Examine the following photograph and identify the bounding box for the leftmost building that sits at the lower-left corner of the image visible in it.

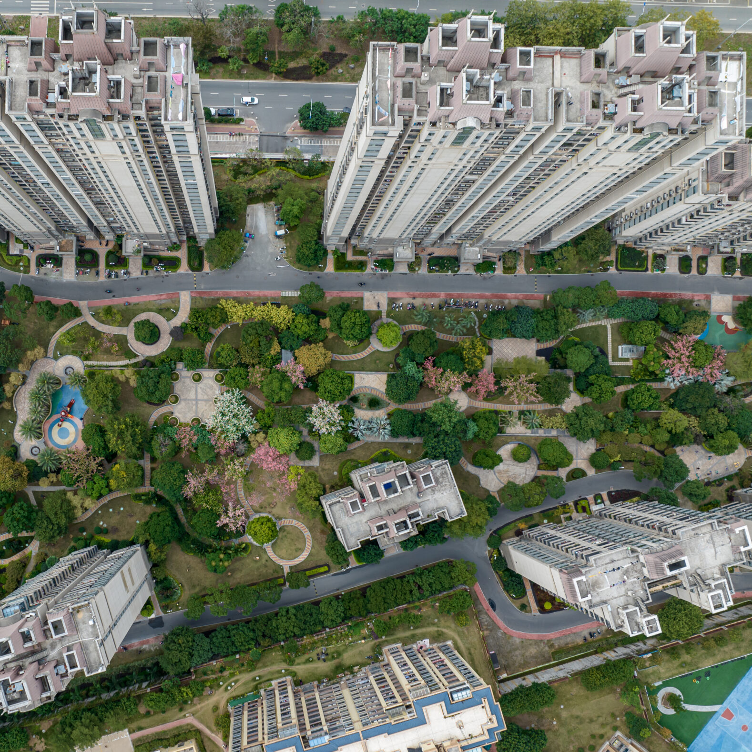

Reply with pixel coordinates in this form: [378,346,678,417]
[0,552,156,725]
